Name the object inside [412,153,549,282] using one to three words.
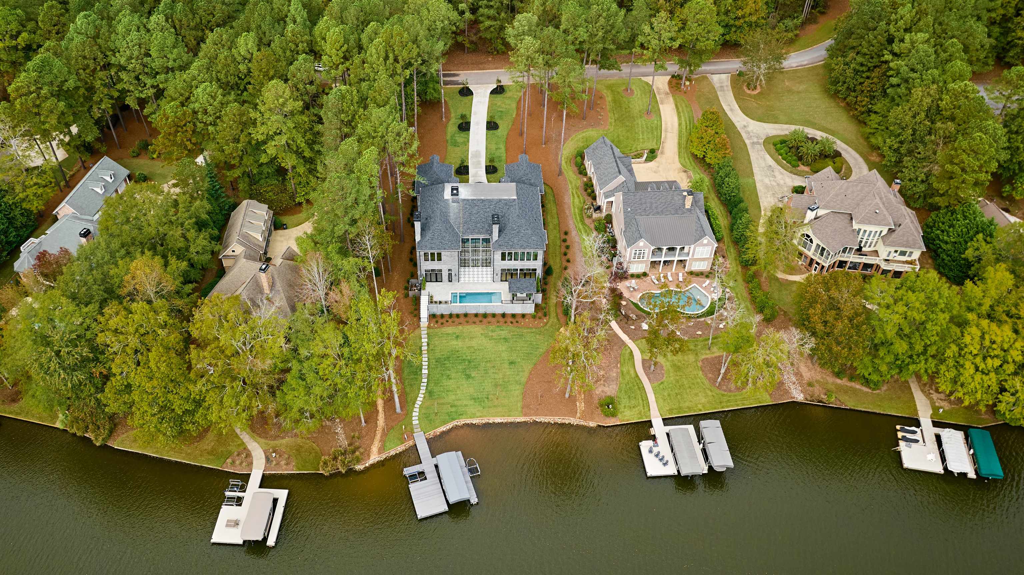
house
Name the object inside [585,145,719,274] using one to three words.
house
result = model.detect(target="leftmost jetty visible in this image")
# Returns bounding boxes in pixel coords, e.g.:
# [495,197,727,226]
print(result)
[210,469,290,551]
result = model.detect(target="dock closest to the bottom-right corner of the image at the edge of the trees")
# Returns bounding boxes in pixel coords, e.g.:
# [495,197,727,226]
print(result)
[894,418,977,480]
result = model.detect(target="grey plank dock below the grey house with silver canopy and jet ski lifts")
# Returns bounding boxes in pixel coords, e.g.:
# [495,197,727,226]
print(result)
[403,431,479,522]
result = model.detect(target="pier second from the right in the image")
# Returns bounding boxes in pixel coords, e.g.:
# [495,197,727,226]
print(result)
[638,417,708,480]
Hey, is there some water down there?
Yes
